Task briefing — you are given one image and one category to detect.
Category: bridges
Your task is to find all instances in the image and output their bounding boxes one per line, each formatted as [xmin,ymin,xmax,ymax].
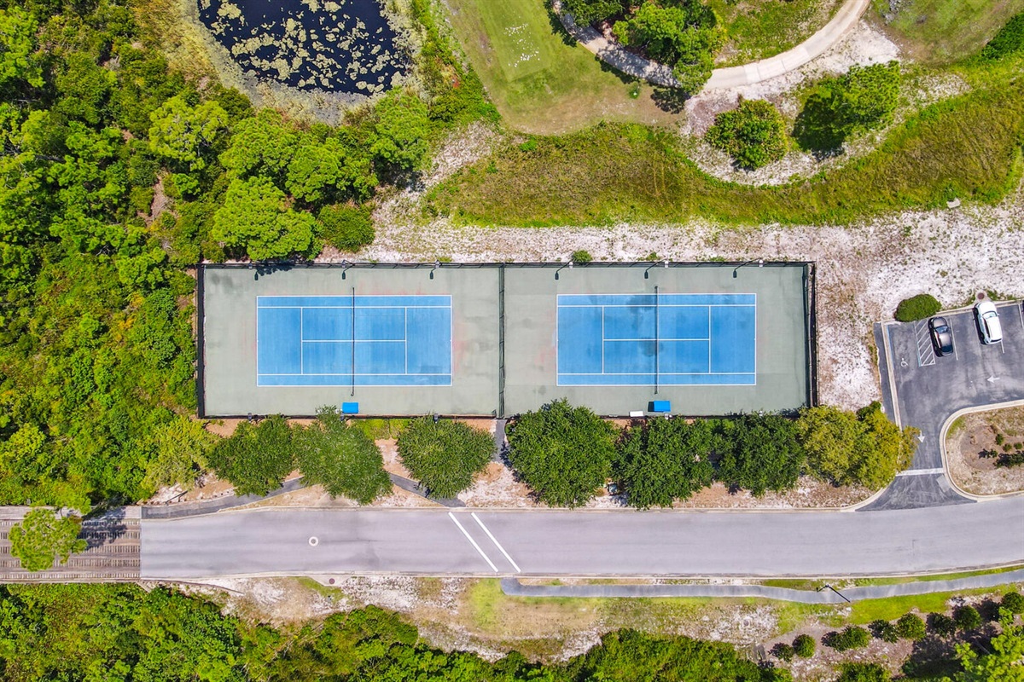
[0,505,141,584]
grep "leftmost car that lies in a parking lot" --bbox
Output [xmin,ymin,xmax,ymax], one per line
[927,317,954,358]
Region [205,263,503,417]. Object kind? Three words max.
tennis court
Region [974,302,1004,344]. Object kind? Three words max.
car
